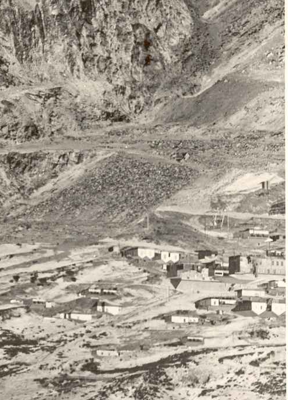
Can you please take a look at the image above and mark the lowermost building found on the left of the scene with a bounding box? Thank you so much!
[91,348,120,364]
